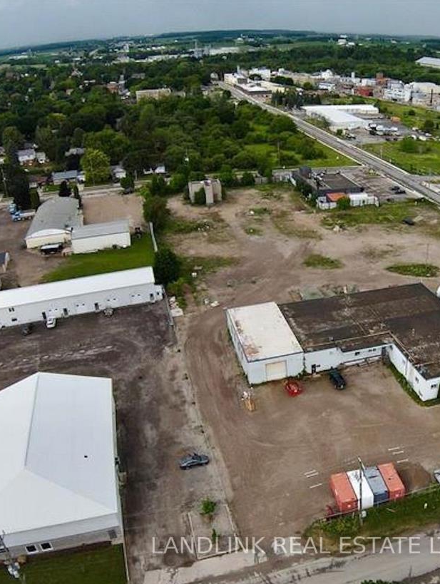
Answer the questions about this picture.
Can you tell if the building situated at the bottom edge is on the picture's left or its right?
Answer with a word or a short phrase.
left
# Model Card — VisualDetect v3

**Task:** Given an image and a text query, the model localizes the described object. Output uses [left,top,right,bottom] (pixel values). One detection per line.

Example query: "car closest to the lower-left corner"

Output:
[178,452,208,468]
